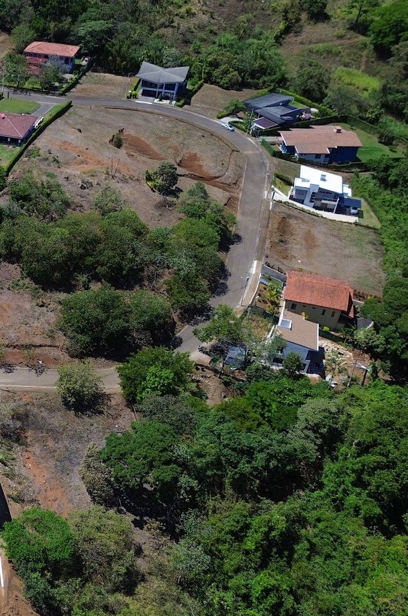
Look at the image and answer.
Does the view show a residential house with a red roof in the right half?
Yes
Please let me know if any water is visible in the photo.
No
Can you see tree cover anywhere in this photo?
Yes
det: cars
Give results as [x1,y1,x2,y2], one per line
[220,123,237,130]
[345,208,365,217]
